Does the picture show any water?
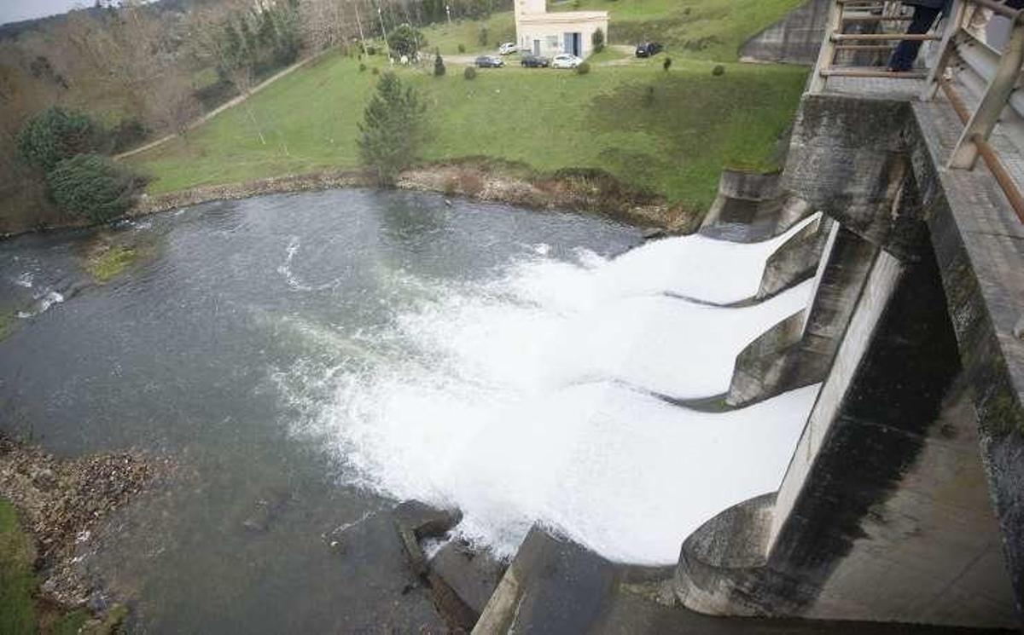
Yes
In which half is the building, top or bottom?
top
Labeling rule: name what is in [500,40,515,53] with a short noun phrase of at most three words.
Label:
vehicle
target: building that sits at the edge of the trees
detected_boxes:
[510,0,618,59]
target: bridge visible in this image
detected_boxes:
[782,3,1024,635]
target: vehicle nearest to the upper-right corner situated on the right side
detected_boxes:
[634,39,666,57]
